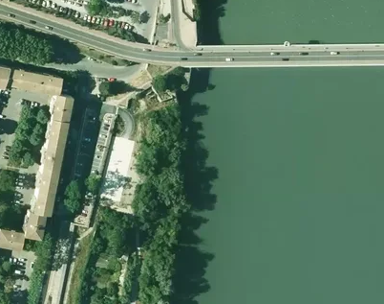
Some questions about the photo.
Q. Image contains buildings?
Yes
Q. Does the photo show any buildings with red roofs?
No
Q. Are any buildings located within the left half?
Yes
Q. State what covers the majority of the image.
water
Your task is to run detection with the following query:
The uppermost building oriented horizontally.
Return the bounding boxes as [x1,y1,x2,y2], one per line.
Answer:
[10,70,63,96]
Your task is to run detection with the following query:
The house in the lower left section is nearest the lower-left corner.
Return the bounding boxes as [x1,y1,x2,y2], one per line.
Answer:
[0,229,24,251]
